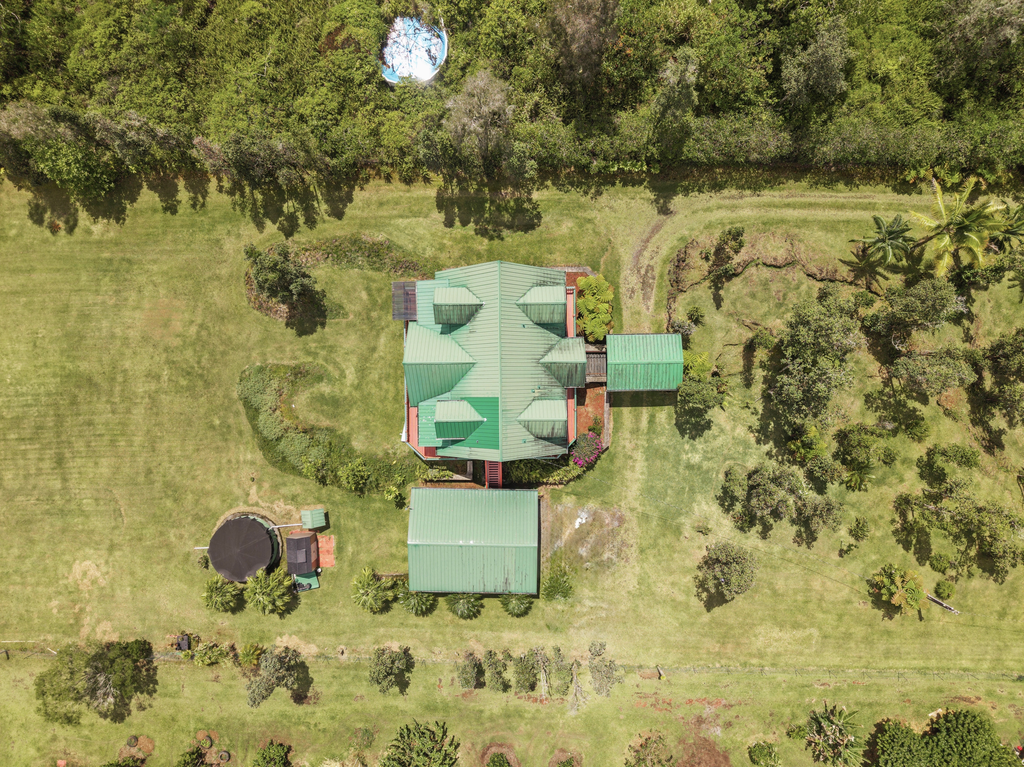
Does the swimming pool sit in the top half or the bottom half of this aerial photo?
top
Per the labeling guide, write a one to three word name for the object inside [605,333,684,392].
building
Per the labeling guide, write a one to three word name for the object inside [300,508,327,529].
shed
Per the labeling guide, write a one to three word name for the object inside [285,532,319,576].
shed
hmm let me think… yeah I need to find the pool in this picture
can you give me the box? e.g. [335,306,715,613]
[382,15,449,91]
